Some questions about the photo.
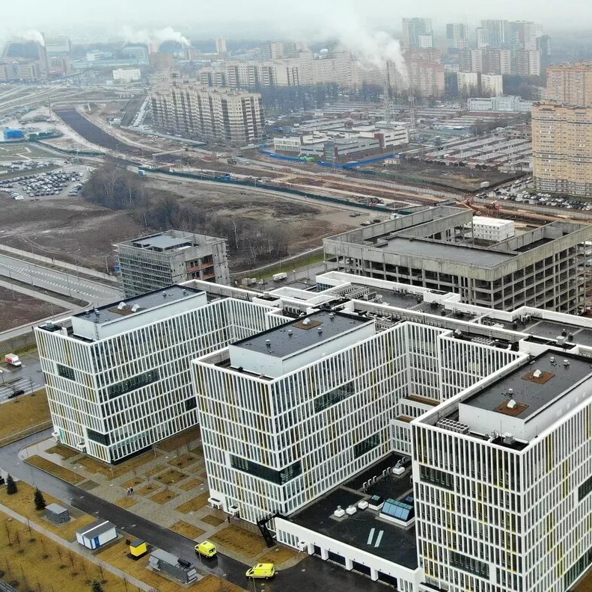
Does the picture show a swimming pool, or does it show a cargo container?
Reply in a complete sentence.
This aerial view contains a cargo container.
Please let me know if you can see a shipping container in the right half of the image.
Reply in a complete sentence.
No, in the right half of the image there is no shipping container.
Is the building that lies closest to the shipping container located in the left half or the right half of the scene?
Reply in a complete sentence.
You can find the building that lies closest to the shipping container on the left side of the picture.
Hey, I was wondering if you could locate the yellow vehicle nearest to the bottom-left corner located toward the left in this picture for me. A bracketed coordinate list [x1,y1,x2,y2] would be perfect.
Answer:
[194,538,221,559]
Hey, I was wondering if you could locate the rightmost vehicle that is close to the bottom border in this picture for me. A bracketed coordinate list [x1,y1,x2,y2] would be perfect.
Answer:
[245,559,277,578]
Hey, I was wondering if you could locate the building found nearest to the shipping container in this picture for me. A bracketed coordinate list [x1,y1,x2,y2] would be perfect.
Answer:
[126,534,152,556]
